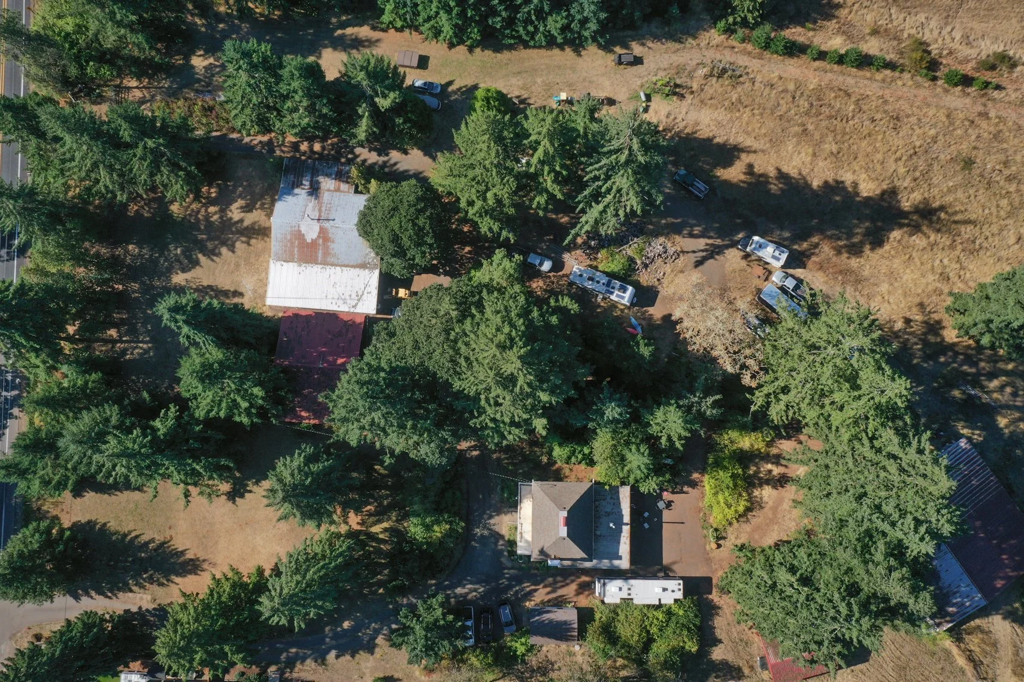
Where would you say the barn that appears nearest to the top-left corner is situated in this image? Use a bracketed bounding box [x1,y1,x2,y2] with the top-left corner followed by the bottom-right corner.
[265,158,385,314]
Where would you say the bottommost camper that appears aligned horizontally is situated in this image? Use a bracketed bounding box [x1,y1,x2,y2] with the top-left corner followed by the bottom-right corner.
[593,565,684,603]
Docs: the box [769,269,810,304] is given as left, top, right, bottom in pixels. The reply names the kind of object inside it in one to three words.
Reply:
truck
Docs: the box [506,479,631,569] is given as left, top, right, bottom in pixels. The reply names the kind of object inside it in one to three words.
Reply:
house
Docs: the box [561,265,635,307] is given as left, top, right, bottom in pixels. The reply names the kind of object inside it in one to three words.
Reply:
trailer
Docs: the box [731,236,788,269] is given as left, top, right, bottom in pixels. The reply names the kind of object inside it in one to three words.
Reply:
van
